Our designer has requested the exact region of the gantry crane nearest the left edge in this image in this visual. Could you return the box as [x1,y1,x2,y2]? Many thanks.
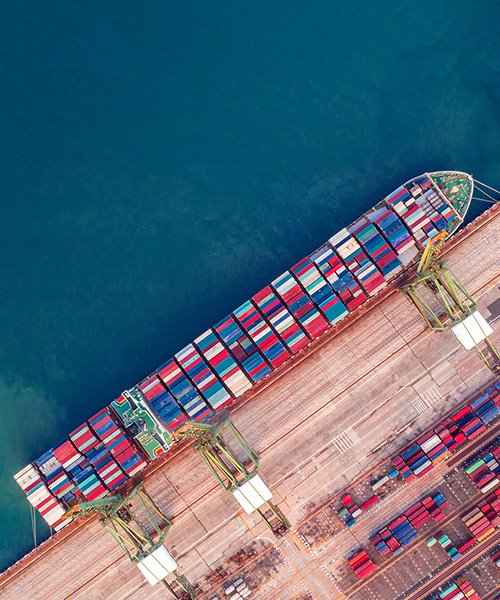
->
[62,478,190,600]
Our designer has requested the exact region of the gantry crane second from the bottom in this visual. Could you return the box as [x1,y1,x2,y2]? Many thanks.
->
[170,412,285,533]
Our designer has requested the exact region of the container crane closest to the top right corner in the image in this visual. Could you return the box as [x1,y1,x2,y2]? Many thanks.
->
[398,230,500,369]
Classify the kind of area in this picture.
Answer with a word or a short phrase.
port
